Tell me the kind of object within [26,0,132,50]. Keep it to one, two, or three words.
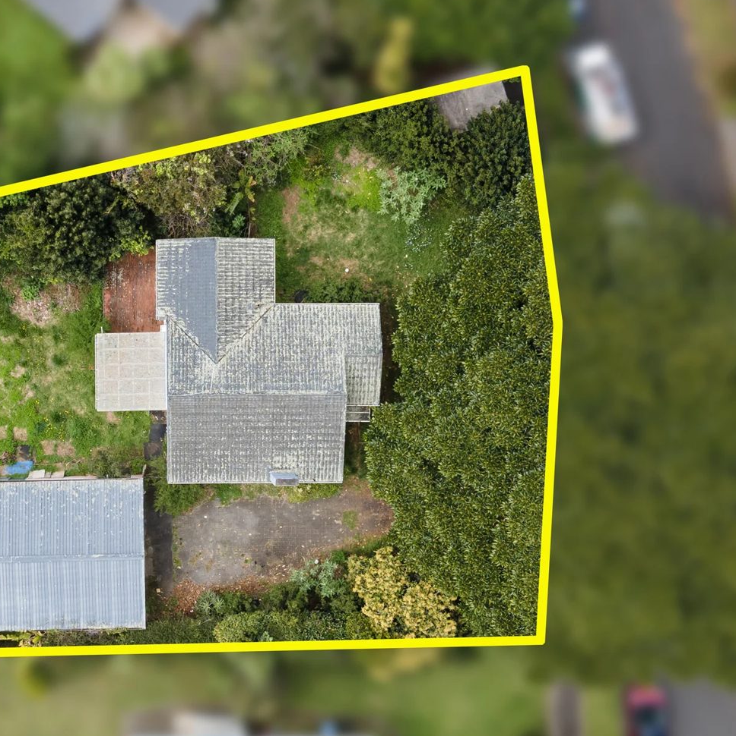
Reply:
house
